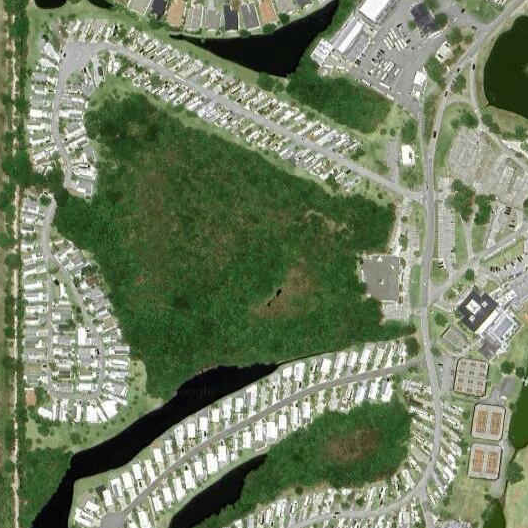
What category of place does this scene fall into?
residential area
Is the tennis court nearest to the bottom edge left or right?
right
